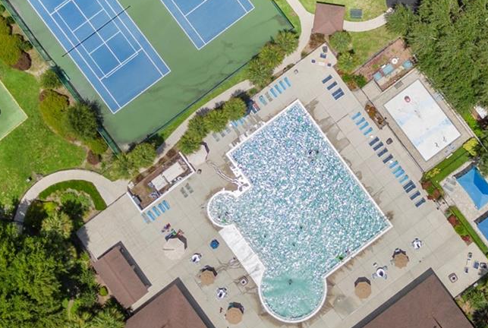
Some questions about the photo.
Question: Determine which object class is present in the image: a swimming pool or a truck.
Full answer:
I can see a swimming pool in this picture.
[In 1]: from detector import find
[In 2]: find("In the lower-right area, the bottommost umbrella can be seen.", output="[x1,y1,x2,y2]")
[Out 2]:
[354,282,372,298]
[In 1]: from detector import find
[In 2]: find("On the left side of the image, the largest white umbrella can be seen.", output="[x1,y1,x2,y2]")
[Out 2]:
[164,236,185,259]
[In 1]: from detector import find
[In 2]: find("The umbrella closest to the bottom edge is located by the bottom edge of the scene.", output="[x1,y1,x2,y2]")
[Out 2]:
[226,308,243,324]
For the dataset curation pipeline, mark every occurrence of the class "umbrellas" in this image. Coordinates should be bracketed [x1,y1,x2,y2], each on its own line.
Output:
[226,308,243,324]
[199,270,215,285]
[164,236,185,259]
[393,252,410,269]
[354,282,372,298]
